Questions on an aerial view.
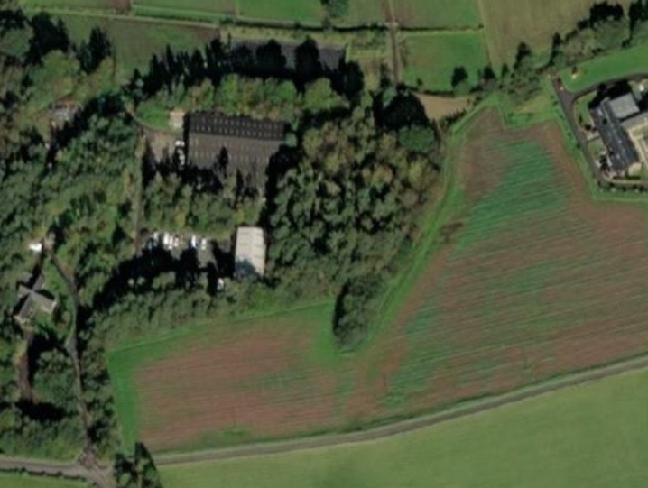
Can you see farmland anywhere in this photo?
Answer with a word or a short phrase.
Yes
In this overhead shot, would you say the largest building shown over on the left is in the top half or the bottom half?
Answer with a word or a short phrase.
top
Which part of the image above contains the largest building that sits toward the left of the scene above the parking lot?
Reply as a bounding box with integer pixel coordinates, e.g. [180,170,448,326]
[185,108,287,185]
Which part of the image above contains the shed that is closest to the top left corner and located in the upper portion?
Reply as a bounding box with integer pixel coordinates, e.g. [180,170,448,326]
[54,104,78,125]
